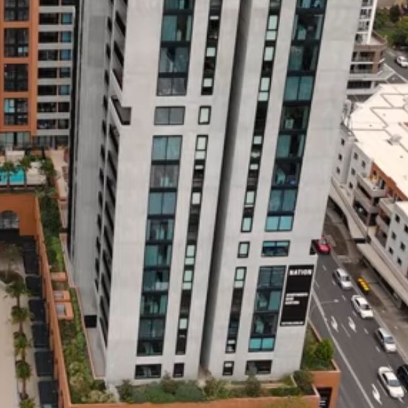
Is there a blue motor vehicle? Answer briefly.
No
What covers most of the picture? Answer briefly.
buildings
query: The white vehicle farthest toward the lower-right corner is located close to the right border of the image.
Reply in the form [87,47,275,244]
[375,370,405,399]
